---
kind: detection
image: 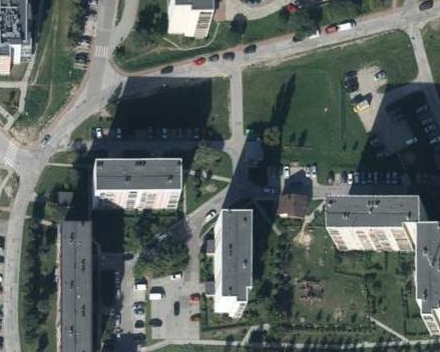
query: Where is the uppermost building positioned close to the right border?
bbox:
[325,196,420,250]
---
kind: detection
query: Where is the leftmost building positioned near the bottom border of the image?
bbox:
[57,221,94,352]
